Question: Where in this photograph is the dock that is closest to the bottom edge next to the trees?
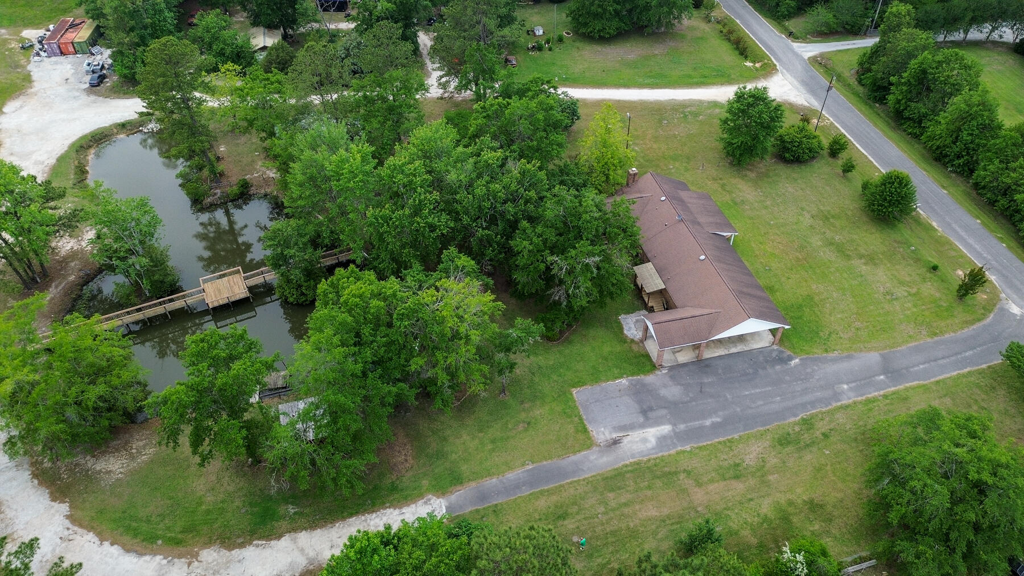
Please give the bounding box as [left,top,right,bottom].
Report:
[258,348,294,399]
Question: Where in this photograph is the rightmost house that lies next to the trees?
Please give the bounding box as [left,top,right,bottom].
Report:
[601,171,792,368]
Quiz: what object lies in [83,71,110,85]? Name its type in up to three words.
car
